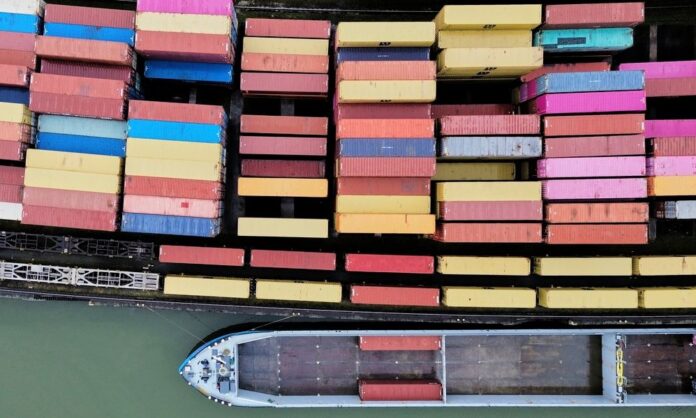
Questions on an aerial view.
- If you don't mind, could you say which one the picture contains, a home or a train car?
train car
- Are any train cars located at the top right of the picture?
No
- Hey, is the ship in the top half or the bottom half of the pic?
bottom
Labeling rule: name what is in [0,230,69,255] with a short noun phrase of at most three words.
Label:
rail car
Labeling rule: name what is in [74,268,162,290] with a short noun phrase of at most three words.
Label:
rail car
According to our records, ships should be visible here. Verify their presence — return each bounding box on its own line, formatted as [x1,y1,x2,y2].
[177,322,696,407]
